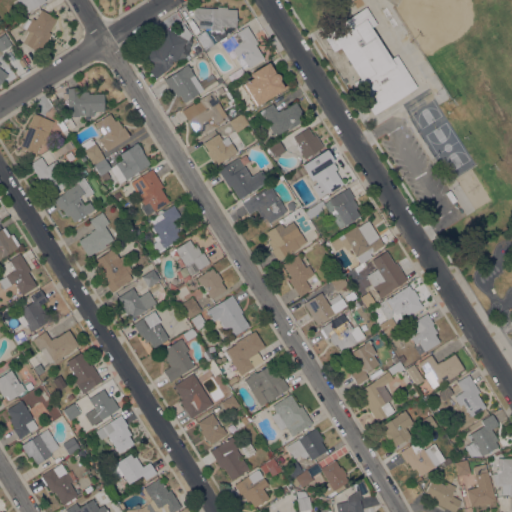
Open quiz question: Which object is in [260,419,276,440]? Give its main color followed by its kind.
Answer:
blue swimming pool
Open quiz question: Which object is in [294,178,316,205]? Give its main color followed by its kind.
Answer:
blue swimming pool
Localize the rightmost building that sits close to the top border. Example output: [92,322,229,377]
[328,6,418,113]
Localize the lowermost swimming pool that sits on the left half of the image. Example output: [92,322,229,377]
[122,494,146,510]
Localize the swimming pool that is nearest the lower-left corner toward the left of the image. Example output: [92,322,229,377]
[54,420,66,444]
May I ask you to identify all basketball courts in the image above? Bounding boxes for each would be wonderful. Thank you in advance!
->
[404,89,476,176]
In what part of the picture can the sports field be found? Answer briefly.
top right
